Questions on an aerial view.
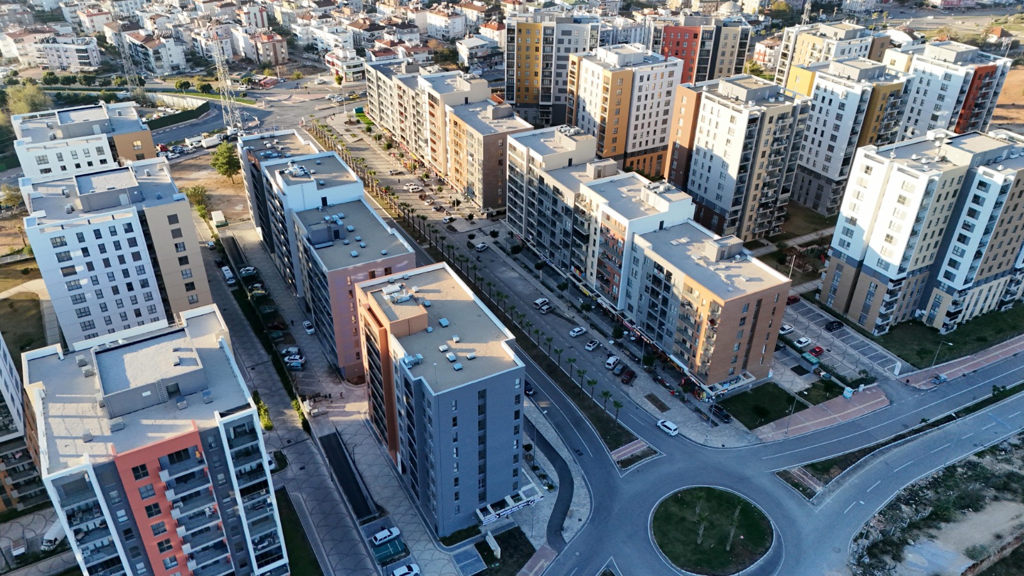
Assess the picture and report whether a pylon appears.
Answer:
Yes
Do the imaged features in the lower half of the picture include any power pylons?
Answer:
No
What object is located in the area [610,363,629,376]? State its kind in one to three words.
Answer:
vehicle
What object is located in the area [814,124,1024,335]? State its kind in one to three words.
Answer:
building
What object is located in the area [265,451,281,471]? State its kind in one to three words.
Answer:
car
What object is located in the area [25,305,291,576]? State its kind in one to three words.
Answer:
building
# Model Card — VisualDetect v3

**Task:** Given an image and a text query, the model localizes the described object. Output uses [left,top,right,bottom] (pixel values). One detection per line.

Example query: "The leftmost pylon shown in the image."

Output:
[110,19,144,96]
